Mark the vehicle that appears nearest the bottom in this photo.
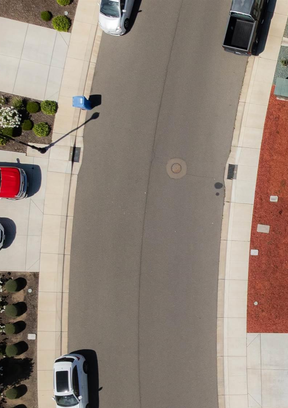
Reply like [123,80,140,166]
[48,354,89,408]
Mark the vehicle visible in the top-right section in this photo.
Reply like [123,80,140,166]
[223,0,267,61]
